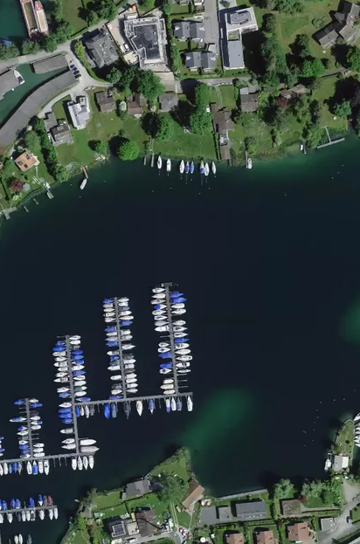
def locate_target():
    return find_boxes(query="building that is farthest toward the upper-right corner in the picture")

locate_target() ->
[313,0,360,49]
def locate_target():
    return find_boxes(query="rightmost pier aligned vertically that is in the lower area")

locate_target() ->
[158,284,182,394]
